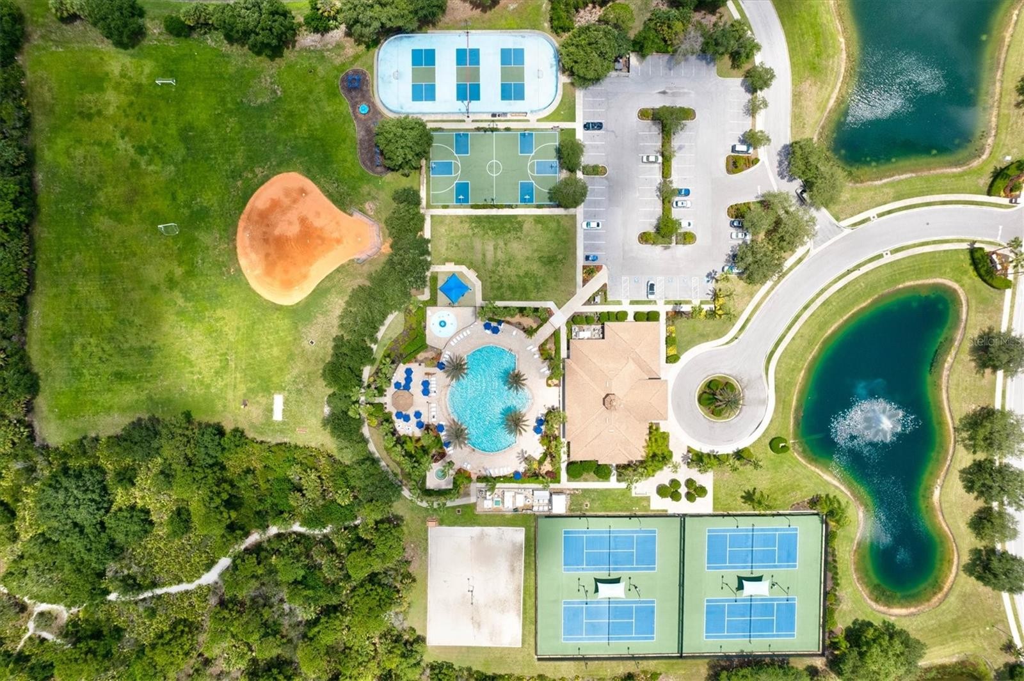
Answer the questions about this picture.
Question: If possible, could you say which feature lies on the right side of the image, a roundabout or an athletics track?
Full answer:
The feature located on the right side of the image is a roundabout.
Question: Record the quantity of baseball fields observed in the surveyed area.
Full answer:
There is 1 baseball field in the image.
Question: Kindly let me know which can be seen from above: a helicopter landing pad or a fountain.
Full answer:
Looking from above, you can make out a fountain.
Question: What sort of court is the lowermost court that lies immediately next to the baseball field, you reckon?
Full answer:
It looks like the lowermost court that lies immediately next to the baseball field is a basketball court.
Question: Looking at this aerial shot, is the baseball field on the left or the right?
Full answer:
The baseball field sits on the left side.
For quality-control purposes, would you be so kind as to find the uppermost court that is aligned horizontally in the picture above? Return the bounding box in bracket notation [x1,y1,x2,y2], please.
[377,31,559,113]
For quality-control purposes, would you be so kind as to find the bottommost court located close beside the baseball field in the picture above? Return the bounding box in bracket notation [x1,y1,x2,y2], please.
[429,130,559,205]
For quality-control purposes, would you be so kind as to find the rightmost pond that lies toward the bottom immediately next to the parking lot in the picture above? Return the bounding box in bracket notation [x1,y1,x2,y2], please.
[792,281,964,613]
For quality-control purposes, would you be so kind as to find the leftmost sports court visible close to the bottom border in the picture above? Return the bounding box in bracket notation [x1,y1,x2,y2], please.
[427,527,525,647]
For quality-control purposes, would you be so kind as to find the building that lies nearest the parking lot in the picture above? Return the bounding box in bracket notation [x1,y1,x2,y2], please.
[565,322,667,464]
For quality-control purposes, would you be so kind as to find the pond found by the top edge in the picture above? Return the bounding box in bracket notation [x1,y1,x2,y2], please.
[815,0,1018,183]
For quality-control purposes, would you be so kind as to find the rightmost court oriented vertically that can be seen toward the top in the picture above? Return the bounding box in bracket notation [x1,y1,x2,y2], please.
[501,48,524,100]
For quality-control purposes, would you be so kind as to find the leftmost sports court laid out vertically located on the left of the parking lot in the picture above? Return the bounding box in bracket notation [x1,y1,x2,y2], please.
[412,49,435,101]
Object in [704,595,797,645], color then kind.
blue tennis court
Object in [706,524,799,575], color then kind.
blue tennis court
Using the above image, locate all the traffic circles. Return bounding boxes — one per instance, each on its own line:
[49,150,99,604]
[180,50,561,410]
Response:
[672,350,767,445]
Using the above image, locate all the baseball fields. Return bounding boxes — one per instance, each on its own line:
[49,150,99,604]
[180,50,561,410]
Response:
[237,172,380,305]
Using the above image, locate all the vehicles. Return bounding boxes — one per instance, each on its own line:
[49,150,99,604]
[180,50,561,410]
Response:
[672,199,691,208]
[584,122,603,130]
[585,255,598,261]
[582,221,601,229]
[672,188,690,196]
[647,280,656,298]
[731,231,750,240]
[723,264,743,273]
[642,154,662,163]
[732,144,752,153]
[728,219,748,228]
